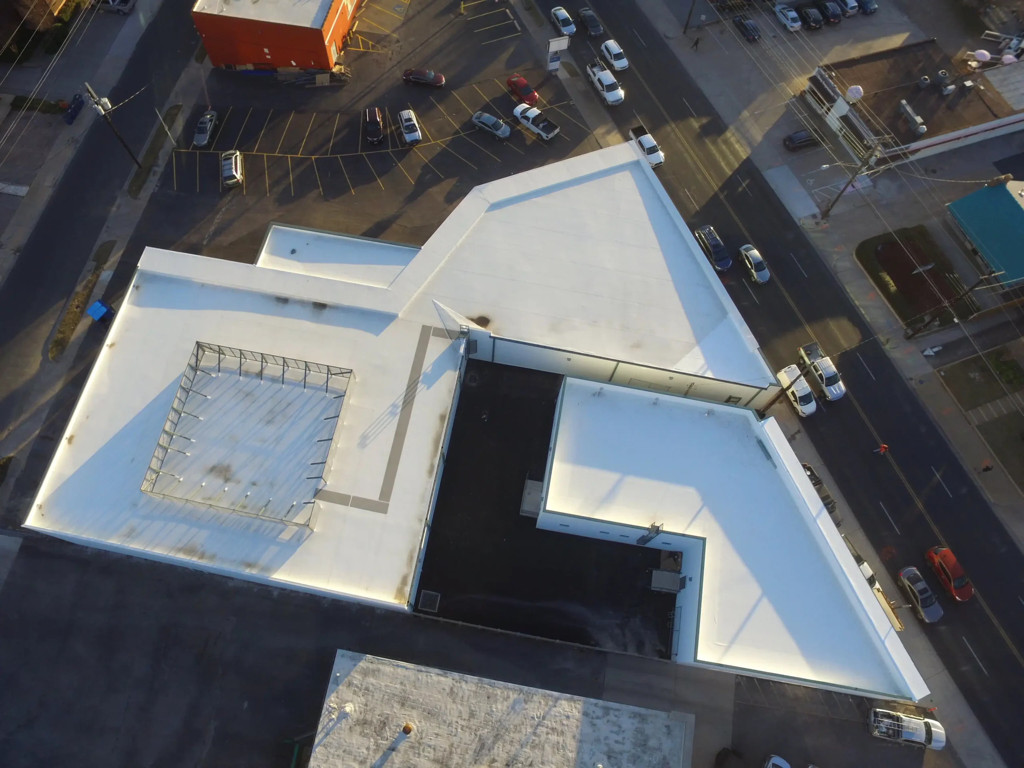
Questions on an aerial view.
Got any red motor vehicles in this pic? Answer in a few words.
Yes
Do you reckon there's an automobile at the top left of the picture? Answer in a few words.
Yes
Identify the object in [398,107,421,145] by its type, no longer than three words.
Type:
car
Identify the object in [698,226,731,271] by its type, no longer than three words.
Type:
car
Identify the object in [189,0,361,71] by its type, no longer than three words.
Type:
building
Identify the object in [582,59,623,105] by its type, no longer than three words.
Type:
truck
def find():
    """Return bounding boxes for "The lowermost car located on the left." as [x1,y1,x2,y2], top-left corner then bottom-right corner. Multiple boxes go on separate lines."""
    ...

[217,149,243,189]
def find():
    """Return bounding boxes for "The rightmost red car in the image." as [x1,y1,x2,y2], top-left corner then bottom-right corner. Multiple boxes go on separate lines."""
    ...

[929,545,972,602]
